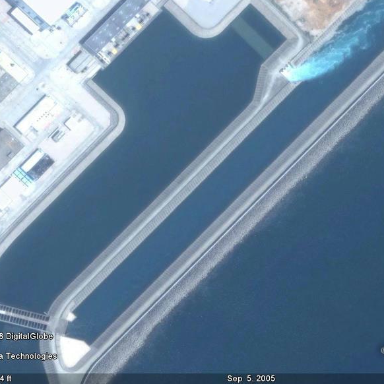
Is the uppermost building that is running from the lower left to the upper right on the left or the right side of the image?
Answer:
left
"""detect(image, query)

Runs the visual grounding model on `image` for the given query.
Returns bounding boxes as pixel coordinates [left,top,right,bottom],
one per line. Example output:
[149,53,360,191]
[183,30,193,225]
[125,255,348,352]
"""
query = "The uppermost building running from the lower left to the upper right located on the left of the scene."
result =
[83,0,150,56]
